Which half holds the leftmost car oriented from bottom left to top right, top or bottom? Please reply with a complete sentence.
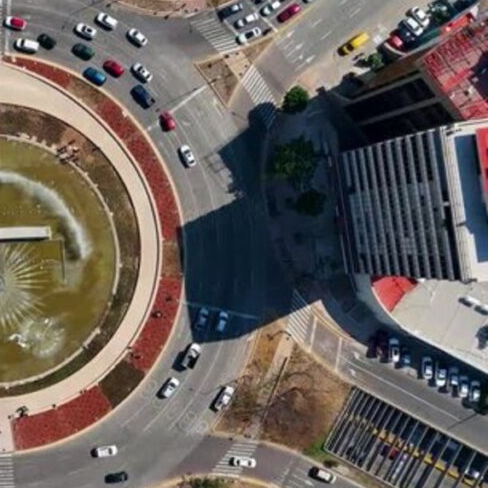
You can find the leftmost car oriented from bottom left to top right in the bottom half.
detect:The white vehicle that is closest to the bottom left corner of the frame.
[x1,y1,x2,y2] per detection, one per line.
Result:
[93,444,116,457]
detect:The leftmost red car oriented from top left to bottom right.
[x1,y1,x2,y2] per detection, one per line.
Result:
[103,59,126,77]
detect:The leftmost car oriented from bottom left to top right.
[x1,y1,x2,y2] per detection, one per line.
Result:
[160,376,180,398]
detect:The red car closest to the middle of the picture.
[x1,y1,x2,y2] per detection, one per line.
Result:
[160,112,176,132]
